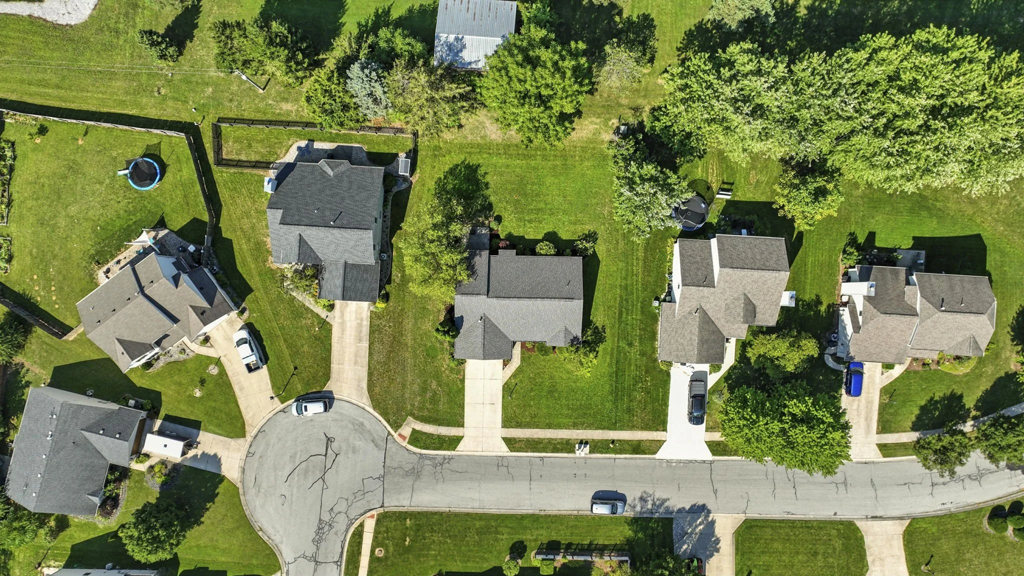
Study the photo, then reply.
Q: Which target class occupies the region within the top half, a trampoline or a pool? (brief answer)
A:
trampoline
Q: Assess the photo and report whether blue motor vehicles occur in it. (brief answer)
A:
Yes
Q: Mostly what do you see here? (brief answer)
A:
grass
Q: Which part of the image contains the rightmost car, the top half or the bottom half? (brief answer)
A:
bottom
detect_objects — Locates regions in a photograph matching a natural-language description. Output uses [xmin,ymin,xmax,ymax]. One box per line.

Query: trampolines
[122,154,165,191]
[676,196,709,232]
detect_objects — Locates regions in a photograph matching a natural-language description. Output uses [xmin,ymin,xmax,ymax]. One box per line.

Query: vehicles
[589,497,626,517]
[234,326,264,375]
[687,379,707,425]
[843,361,864,397]
[290,398,332,418]
[688,556,703,569]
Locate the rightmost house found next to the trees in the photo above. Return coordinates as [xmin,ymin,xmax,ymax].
[835,265,996,364]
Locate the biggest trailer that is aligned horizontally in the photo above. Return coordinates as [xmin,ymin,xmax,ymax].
[143,430,202,457]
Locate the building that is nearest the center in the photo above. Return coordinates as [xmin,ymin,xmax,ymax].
[453,249,583,360]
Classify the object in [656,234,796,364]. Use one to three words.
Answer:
house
